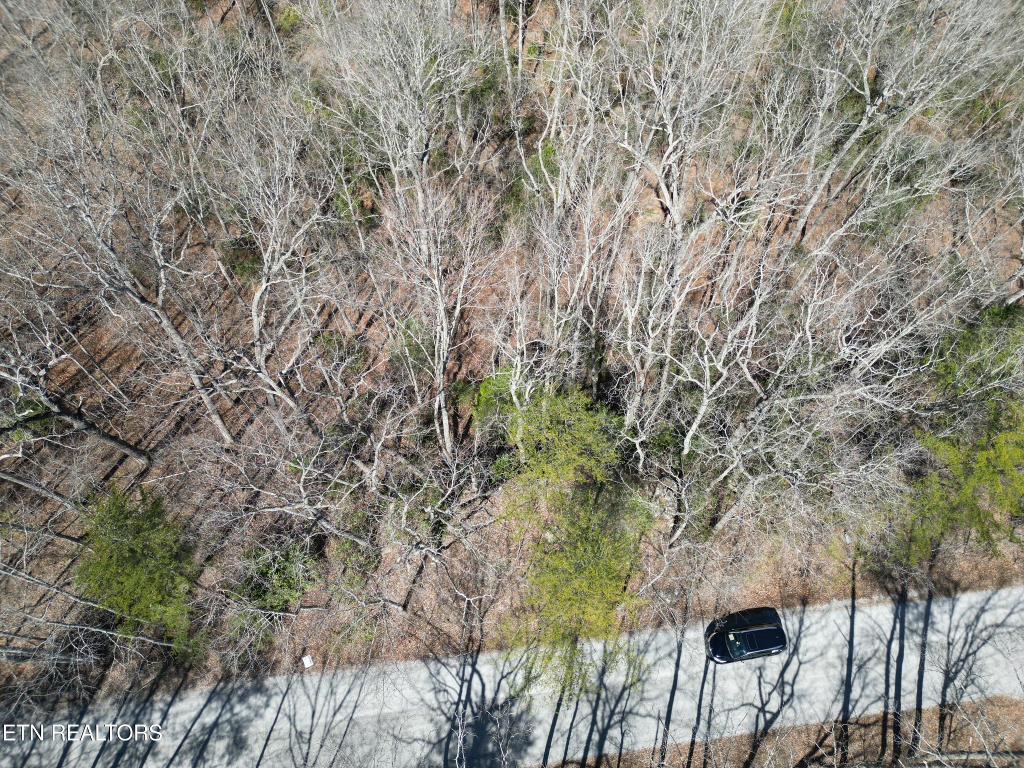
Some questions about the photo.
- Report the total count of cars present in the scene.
1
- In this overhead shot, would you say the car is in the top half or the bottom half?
bottom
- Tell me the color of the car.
black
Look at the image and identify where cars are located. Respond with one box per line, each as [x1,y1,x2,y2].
[706,619,790,662]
